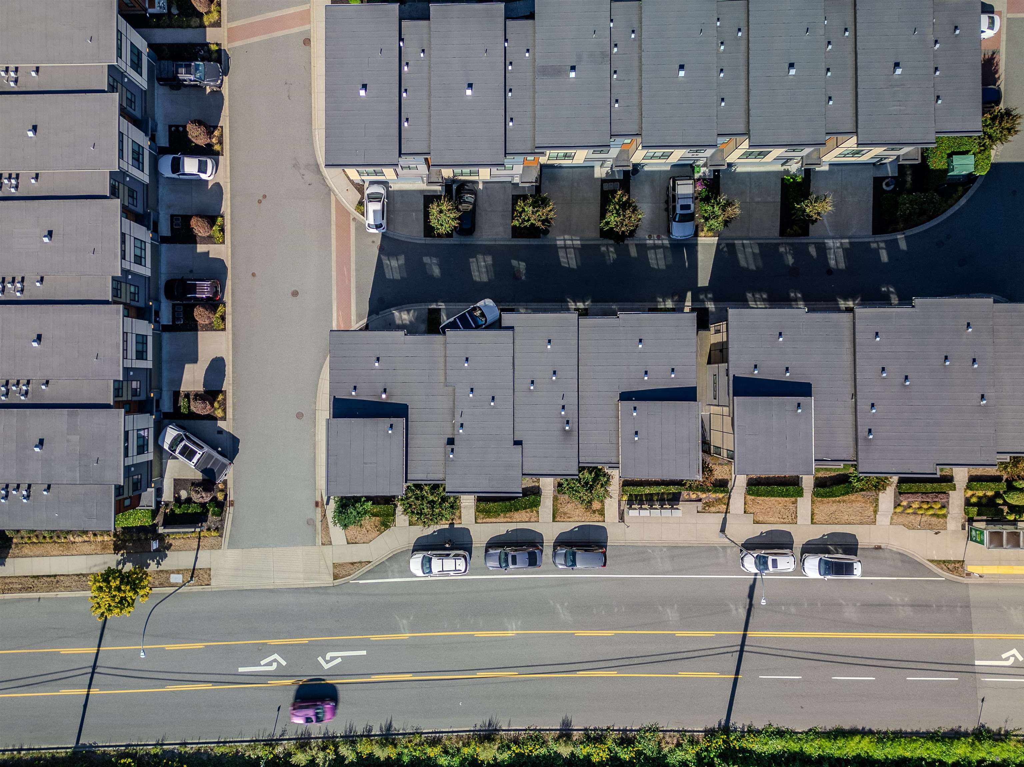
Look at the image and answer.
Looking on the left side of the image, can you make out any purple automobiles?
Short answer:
Yes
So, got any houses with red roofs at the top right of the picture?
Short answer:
No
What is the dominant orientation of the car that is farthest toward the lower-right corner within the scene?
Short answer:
horizontally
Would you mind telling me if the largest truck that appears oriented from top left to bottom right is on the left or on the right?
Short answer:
left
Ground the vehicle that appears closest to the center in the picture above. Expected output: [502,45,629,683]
[440,298,500,334]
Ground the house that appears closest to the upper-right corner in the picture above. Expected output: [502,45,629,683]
[824,0,983,170]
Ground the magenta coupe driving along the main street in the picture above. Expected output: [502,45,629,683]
[287,698,337,727]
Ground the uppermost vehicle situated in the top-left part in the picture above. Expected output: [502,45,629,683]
[159,58,226,89]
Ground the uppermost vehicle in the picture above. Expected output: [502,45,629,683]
[982,11,1007,41]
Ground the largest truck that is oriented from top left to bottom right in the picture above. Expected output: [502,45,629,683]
[162,426,235,481]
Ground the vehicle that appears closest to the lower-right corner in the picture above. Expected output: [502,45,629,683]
[800,552,863,582]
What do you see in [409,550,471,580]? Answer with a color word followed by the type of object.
white car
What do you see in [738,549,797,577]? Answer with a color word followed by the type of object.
white car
